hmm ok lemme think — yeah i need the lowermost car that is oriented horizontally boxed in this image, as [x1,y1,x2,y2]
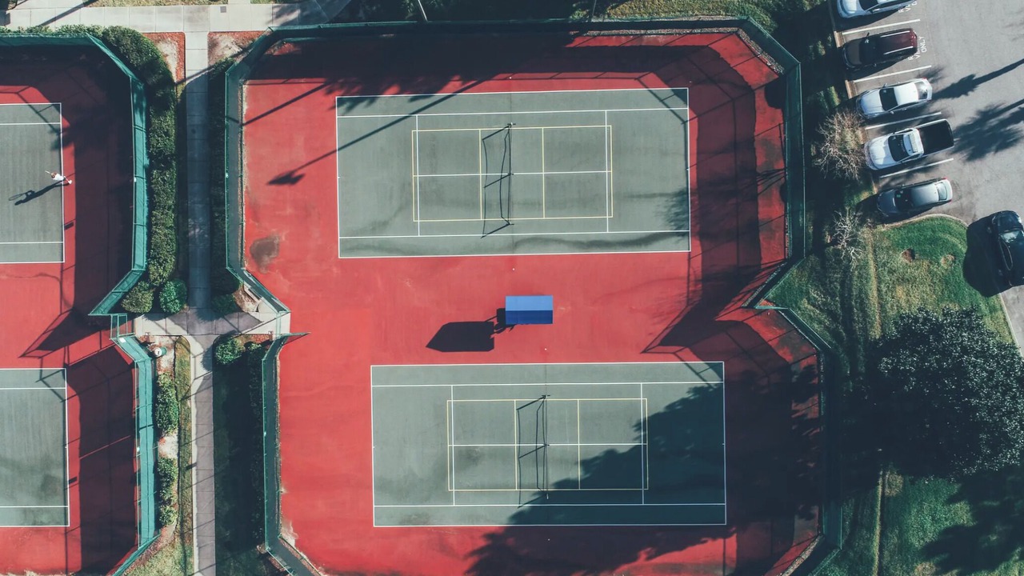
[874,177,956,219]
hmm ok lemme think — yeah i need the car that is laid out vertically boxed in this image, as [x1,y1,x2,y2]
[991,209,1024,287]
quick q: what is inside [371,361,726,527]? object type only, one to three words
tennis court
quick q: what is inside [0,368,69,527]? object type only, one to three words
tennis court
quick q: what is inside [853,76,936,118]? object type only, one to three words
car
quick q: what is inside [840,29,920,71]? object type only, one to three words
car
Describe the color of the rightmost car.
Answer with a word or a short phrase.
black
